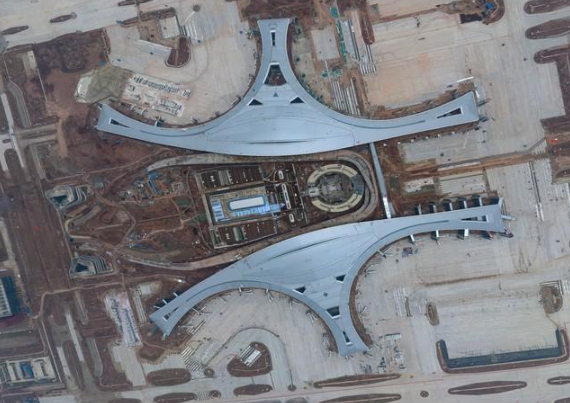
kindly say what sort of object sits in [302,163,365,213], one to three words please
building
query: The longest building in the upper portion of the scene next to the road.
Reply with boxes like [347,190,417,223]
[96,17,479,156]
